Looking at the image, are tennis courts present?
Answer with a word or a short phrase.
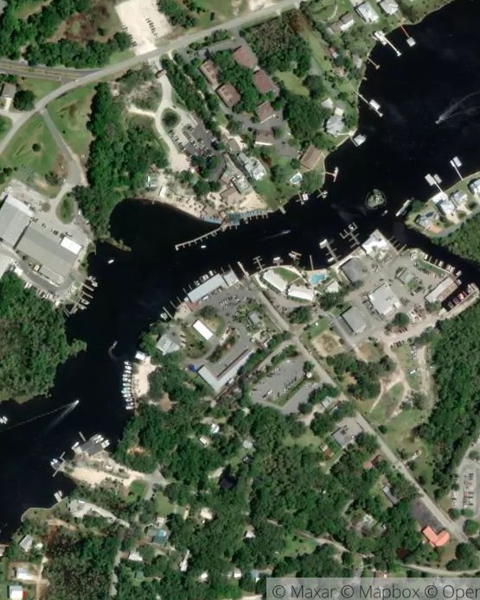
No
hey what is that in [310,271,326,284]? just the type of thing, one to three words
swimming pool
